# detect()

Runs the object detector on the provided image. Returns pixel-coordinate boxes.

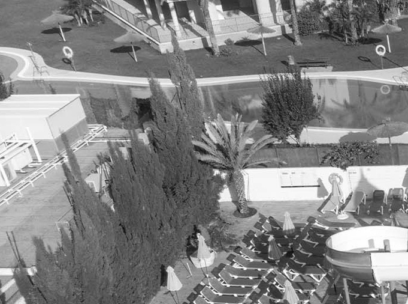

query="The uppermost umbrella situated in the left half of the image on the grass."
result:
[41,10,76,41]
